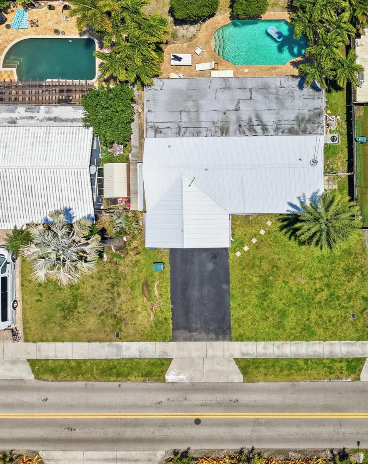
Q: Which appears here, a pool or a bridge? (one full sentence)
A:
Visible in the photo is a pool.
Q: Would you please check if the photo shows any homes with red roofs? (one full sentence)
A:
No, no home with a red roof is visible in the view.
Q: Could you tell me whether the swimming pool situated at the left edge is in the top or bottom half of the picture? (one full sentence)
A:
Seen from above, the swimming pool situated at the left edge lies in the top half of the view.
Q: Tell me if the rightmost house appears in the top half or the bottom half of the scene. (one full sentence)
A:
The top half of the photo is where the rightmost house is.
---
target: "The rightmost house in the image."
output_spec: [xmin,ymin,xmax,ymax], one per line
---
[136,76,325,248]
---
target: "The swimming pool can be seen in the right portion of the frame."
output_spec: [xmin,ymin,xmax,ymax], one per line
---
[208,16,309,67]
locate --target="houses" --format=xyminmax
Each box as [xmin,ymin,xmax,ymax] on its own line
[136,76,325,248]
[0,82,104,229]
